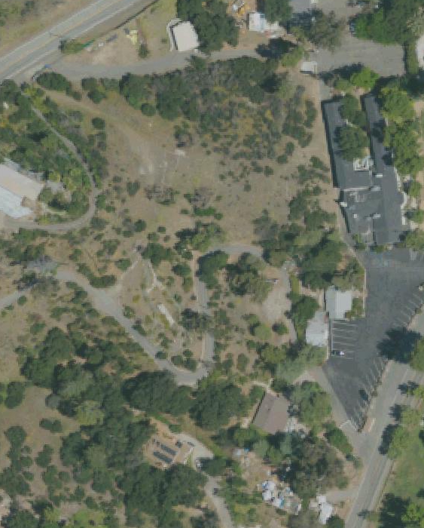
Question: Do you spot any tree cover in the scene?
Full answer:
Yes, there's tree cover in this view.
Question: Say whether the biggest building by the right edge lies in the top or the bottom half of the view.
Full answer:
The biggest building by the right edge is in the top half of the image.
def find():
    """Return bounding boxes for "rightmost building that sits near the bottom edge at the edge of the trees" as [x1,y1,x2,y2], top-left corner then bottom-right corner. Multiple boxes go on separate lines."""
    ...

[309,496,333,524]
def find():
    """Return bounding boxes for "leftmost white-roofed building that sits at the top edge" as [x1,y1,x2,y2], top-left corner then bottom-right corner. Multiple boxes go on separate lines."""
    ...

[166,18,199,51]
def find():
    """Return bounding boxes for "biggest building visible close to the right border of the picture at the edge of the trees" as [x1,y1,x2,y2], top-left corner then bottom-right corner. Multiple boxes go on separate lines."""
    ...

[323,95,405,244]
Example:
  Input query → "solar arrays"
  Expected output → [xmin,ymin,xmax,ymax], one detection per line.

[153,451,173,466]
[160,443,178,457]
